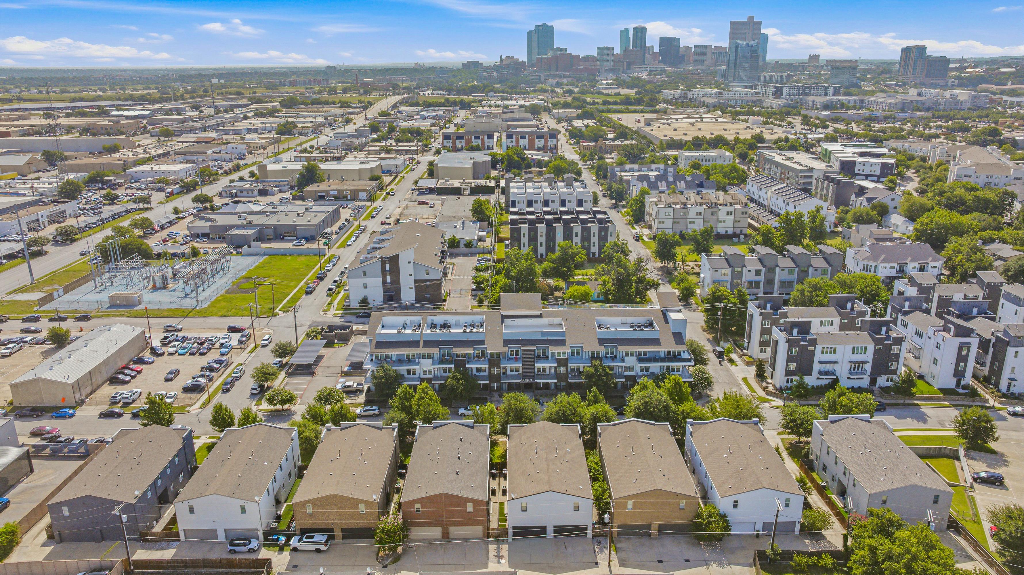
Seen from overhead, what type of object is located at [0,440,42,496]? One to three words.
shed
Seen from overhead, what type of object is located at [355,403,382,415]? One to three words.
vehicle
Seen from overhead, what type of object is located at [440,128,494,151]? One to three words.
building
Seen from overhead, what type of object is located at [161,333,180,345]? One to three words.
vehicle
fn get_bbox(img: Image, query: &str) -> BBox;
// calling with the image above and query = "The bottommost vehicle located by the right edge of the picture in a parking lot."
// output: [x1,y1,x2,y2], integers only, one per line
[969,469,1006,485]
